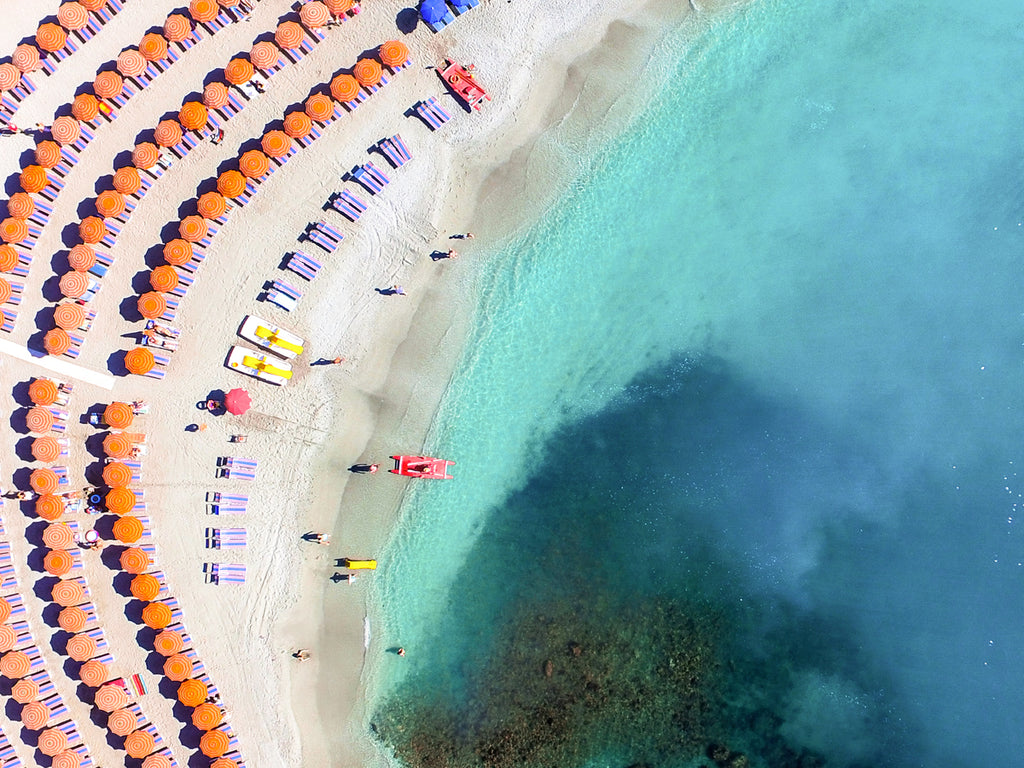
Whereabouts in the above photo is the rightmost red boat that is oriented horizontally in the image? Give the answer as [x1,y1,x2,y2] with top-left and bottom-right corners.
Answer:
[388,454,455,481]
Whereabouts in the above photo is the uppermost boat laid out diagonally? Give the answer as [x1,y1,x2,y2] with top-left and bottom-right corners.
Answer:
[433,60,492,113]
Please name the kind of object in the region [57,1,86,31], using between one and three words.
umbrella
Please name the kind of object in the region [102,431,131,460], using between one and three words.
umbrella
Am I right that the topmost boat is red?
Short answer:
Yes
